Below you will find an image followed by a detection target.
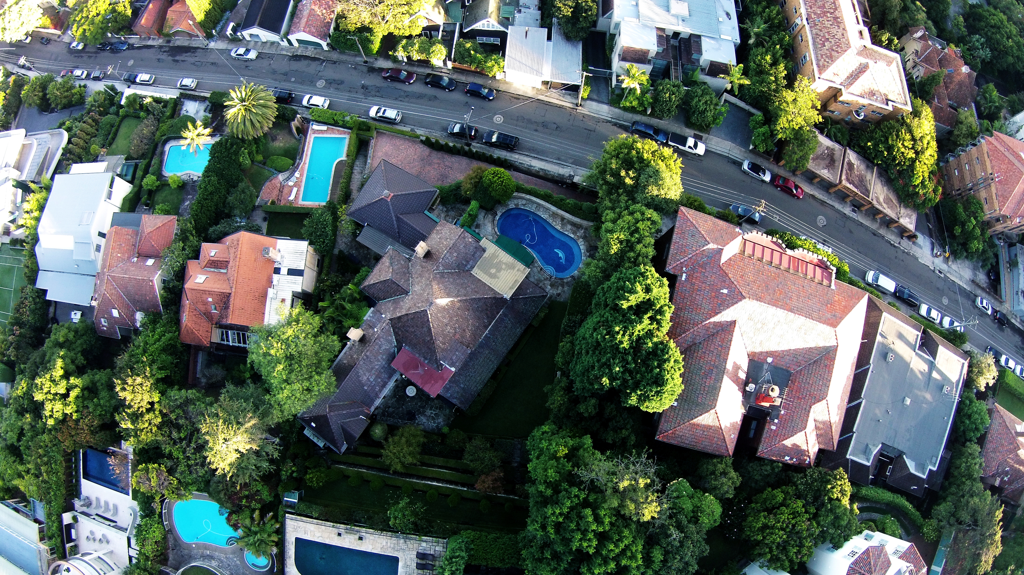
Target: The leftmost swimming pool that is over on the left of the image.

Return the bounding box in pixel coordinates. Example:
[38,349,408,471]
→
[81,446,132,499]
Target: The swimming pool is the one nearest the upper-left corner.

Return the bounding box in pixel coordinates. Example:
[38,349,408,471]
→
[160,138,218,177]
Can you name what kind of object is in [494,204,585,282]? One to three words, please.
swimming pool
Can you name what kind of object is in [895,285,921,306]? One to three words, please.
car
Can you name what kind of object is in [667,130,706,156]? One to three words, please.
truck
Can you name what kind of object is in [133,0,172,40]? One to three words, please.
house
